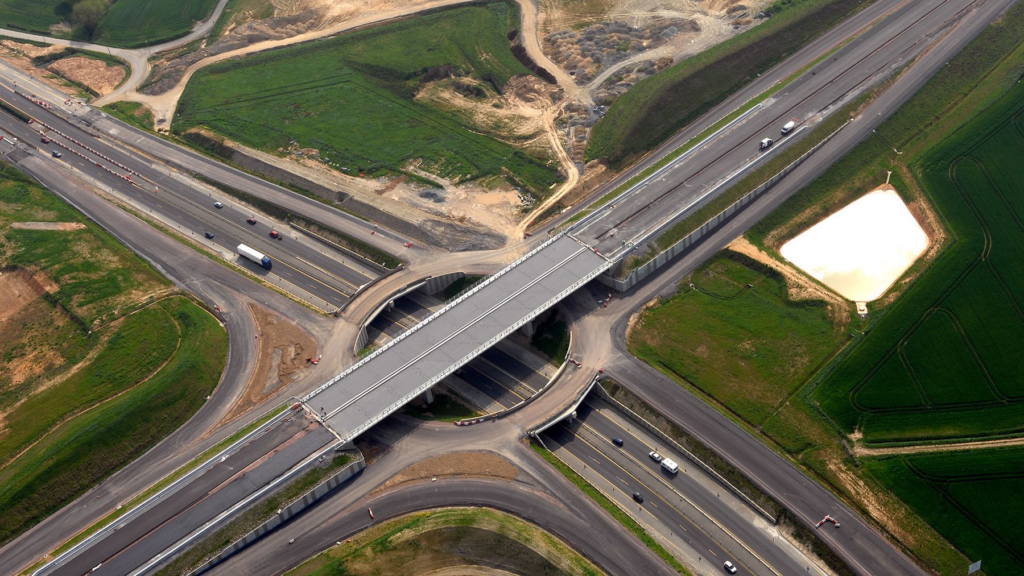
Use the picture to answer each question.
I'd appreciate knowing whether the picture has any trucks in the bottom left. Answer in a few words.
No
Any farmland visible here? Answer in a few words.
Yes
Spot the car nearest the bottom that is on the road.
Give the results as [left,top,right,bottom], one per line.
[723,560,737,573]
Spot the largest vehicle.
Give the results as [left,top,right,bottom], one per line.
[238,245,273,270]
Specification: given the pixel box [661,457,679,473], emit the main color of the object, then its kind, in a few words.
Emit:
white camper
